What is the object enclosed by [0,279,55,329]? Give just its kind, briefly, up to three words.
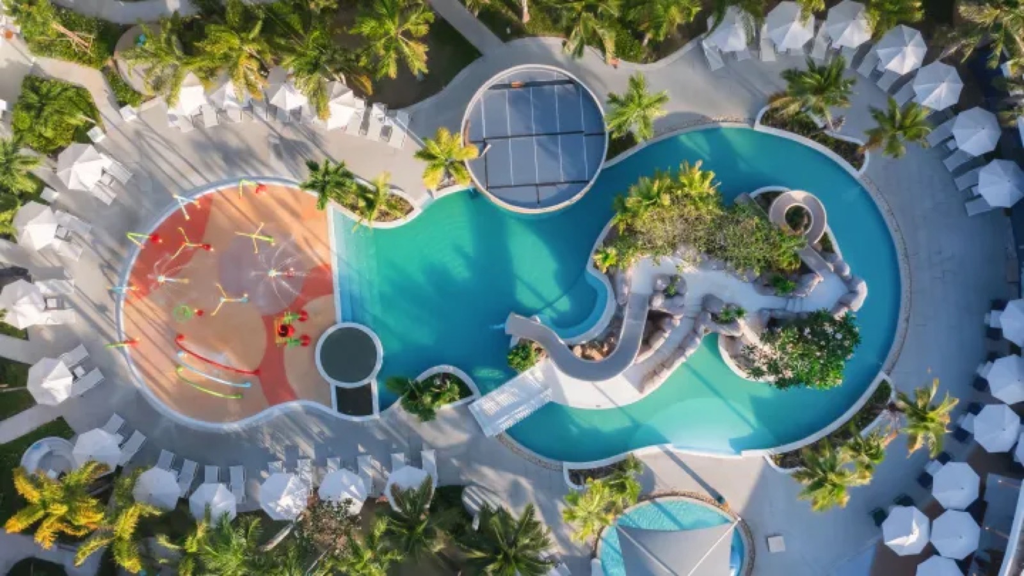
umbrella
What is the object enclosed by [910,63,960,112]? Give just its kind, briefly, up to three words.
umbrella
